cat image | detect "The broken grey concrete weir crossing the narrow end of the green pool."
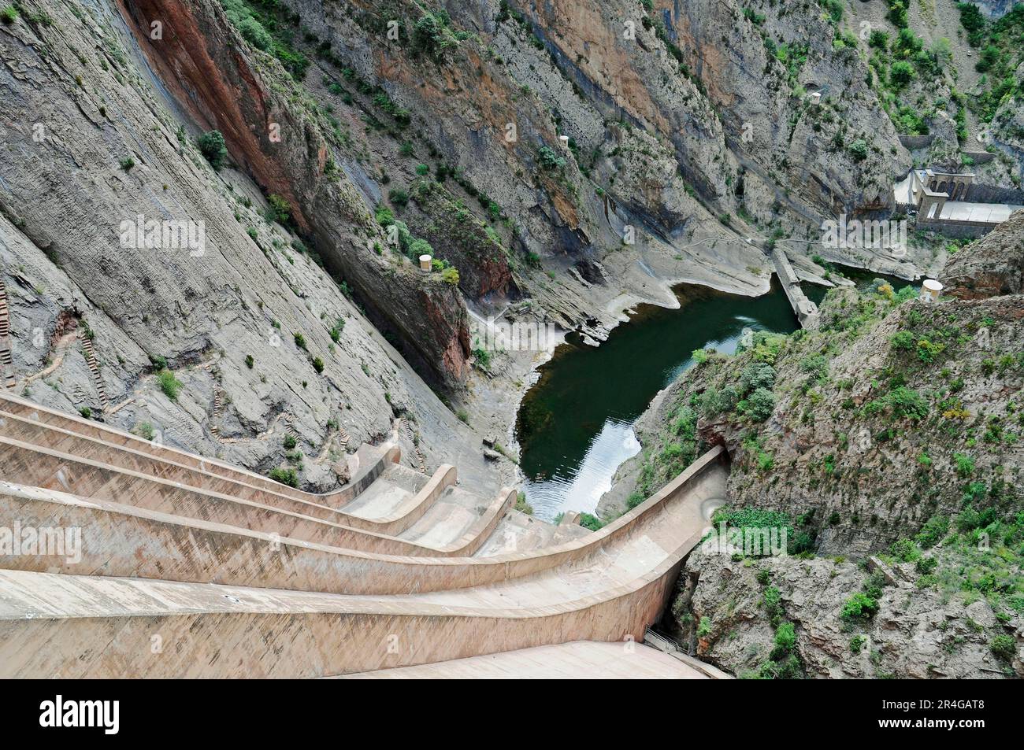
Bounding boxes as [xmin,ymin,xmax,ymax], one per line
[772,241,817,321]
